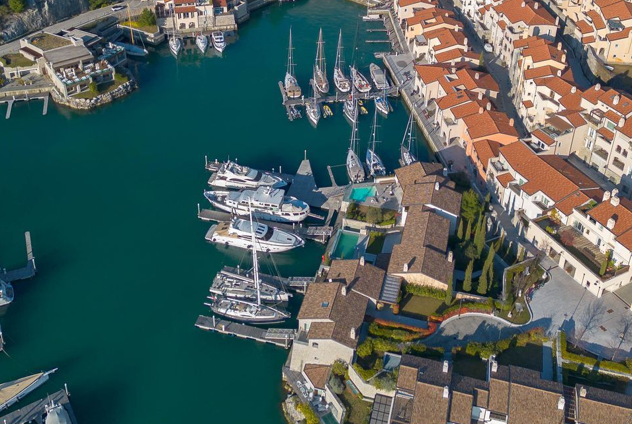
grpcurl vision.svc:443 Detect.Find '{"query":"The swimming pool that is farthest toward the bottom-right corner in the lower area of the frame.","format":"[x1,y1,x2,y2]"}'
[382,351,402,370]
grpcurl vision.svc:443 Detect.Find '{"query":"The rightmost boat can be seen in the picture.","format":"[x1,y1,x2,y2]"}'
[399,109,415,168]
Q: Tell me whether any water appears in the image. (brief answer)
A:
Yes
